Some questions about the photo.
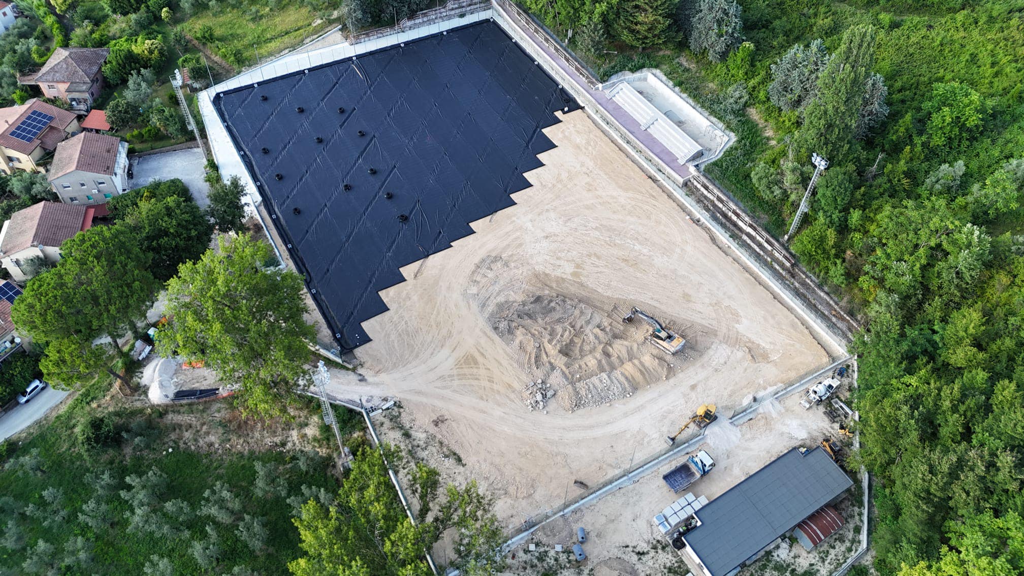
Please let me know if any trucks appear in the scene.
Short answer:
Yes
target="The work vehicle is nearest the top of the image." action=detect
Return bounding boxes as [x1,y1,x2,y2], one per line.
[623,302,680,351]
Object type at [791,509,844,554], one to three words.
shed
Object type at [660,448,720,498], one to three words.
truck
